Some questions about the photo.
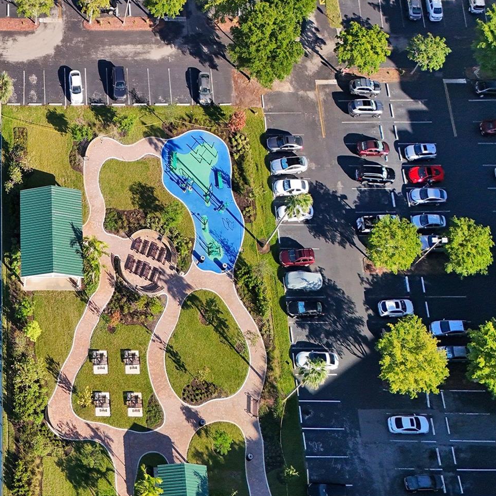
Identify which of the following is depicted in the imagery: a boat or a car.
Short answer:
car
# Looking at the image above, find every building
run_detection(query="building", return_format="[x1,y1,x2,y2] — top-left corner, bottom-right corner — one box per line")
[20,185,84,290]
[153,463,209,496]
